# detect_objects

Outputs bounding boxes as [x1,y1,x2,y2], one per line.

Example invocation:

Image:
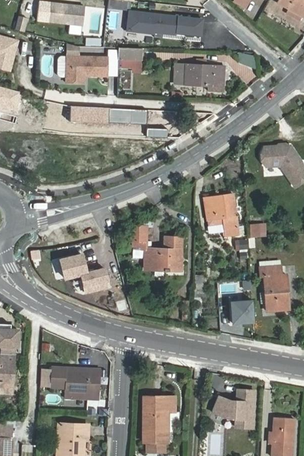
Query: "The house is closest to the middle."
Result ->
[134,224,185,277]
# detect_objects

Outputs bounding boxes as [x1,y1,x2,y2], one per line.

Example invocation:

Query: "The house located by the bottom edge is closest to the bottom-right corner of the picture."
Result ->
[268,418,298,456]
